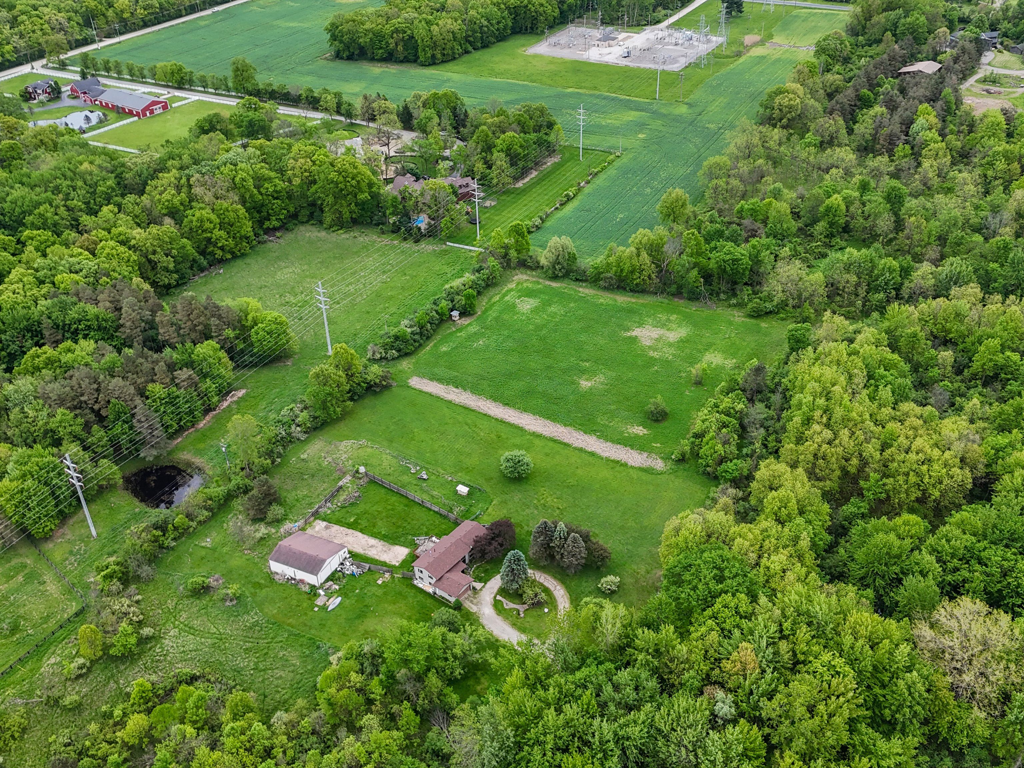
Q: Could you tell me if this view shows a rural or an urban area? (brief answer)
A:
rural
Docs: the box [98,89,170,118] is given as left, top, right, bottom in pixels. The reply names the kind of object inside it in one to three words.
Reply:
barn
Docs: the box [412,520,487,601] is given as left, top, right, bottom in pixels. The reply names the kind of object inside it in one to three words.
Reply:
house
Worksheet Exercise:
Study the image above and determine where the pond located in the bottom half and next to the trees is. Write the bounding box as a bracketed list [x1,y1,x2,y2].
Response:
[126,463,205,509]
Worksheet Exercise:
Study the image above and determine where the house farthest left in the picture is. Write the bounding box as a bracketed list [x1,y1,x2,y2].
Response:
[25,80,55,102]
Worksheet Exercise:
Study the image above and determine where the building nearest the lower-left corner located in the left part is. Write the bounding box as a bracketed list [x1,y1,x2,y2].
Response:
[268,529,344,586]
